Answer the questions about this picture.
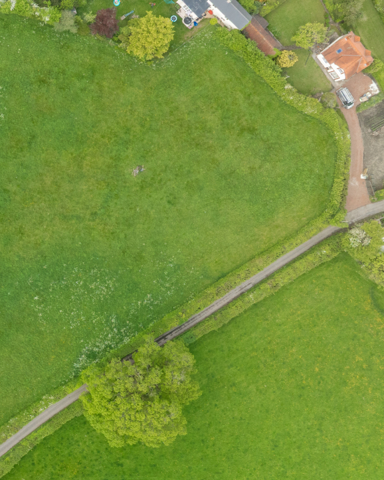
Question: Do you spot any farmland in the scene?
Yes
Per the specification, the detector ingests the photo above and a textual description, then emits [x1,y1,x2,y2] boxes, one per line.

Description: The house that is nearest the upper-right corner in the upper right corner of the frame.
[314,31,374,81]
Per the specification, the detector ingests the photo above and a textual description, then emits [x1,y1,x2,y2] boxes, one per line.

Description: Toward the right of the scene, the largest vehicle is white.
[334,85,353,110]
